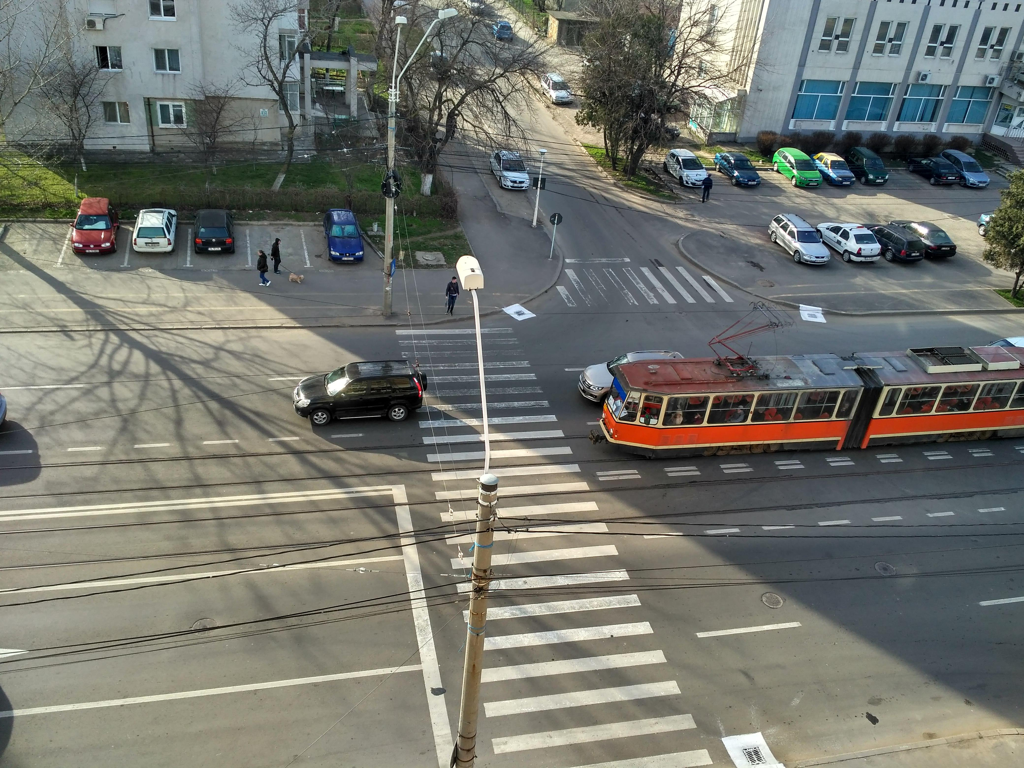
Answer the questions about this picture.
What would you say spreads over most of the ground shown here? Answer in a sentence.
What you mostly see from above here is paved ground.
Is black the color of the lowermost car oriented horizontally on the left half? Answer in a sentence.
Yes, the lowermost car oriented horizontally on the left half is indeed black.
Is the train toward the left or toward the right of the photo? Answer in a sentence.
You can find the train on the right side of the picture.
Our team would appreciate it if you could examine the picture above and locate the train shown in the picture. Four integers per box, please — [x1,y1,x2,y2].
[591,304,1024,460]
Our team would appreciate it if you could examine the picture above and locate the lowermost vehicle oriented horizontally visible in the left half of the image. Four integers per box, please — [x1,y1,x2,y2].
[291,356,429,424]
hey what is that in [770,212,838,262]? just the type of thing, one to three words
car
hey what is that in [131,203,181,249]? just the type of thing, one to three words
car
